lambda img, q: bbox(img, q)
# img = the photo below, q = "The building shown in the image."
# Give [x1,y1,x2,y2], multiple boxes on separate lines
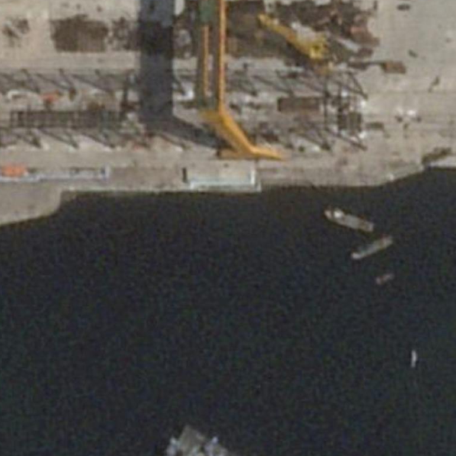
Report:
[186,167,256,187]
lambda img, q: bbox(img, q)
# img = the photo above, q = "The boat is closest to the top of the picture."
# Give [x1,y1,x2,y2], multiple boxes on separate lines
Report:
[325,211,376,236]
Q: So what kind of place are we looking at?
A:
port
